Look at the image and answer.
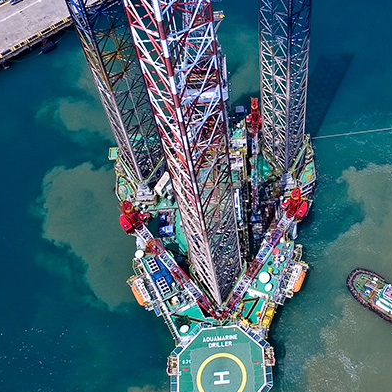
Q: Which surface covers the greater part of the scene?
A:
water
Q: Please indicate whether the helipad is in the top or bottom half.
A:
bottom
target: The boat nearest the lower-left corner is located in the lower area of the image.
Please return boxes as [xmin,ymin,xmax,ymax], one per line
[130,283,148,314]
